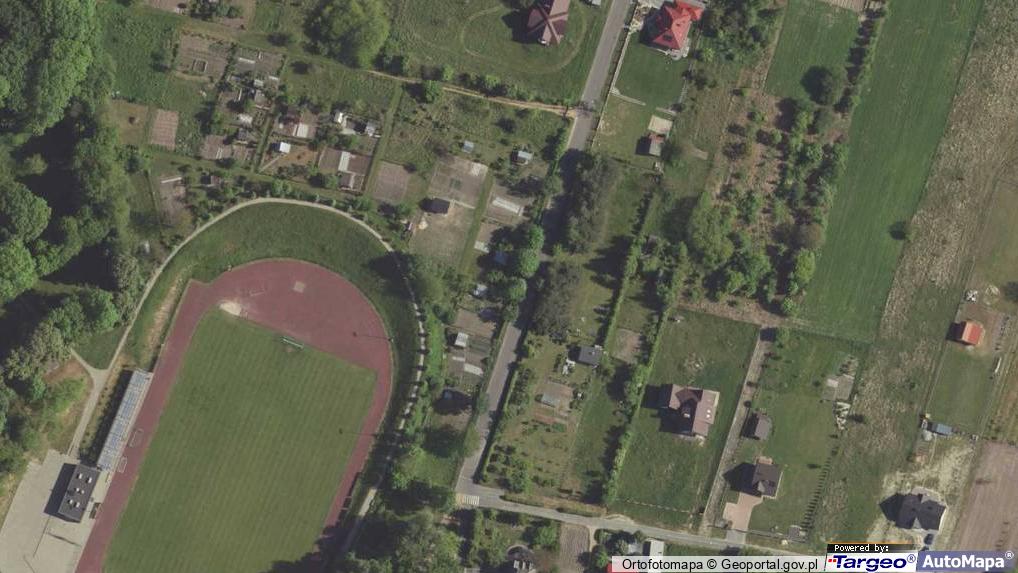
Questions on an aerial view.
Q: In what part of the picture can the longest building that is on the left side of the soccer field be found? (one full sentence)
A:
You can find the longest building that is on the left side of the soccer field in the bottom left area of the picture.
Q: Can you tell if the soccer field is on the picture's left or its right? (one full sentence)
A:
The soccer field appears in the left half of the scene.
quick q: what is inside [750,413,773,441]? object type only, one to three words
shed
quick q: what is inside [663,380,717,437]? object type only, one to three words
house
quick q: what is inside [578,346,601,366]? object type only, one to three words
house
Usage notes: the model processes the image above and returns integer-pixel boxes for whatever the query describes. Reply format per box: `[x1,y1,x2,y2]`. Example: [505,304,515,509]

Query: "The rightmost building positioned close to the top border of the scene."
[651,0,701,50]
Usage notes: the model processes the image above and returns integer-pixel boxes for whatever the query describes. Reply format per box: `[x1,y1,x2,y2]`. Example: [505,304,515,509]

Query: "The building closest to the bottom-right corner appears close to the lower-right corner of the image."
[895,491,947,533]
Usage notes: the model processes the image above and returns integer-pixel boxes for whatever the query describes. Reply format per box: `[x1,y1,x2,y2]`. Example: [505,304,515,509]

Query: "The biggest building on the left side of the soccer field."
[58,465,99,521]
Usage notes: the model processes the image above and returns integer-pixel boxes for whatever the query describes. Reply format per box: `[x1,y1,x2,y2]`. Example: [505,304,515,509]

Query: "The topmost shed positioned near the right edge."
[954,320,980,346]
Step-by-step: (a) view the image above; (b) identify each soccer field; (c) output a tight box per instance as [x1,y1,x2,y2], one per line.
[105,308,377,573]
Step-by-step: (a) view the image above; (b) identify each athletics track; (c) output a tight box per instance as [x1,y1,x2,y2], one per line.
[76,259,394,573]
